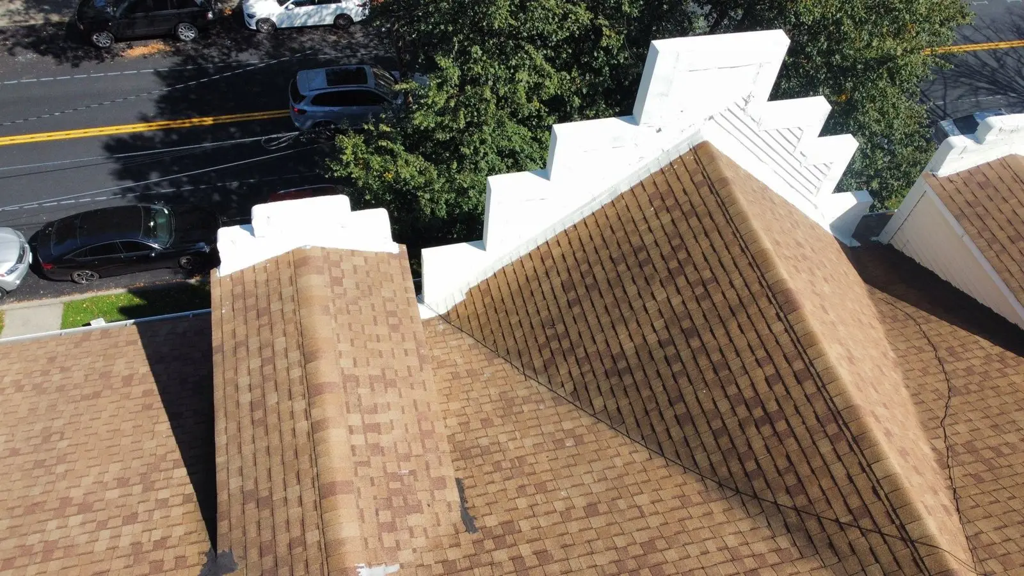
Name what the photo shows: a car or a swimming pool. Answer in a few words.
car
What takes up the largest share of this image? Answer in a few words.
buildings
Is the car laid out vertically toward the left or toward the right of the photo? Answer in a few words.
left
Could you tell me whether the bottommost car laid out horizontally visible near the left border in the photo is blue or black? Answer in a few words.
black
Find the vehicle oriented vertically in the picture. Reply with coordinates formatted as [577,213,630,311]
[0,225,31,294]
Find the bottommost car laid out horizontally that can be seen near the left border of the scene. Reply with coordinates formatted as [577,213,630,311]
[30,199,221,284]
